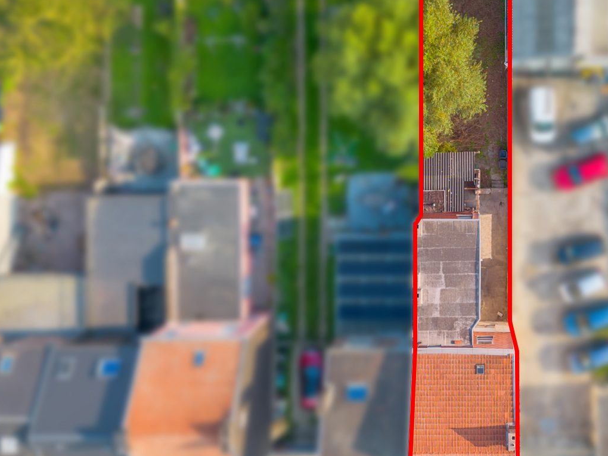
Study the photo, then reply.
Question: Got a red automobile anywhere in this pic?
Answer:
Yes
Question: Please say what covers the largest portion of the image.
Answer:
buildings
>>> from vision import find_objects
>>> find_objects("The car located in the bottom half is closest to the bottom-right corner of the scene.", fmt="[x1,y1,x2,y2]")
[562,334,608,374]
